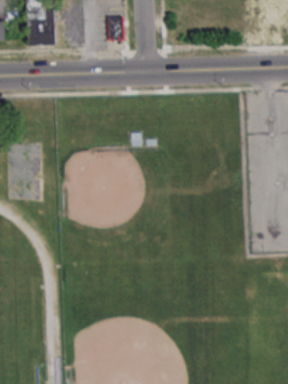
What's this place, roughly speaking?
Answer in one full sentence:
The picture captures a sports ground.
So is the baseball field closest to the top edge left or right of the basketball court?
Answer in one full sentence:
The baseball field closest to the top edge is to the right of the basketball court.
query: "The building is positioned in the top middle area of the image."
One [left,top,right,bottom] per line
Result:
[106,15,126,40]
